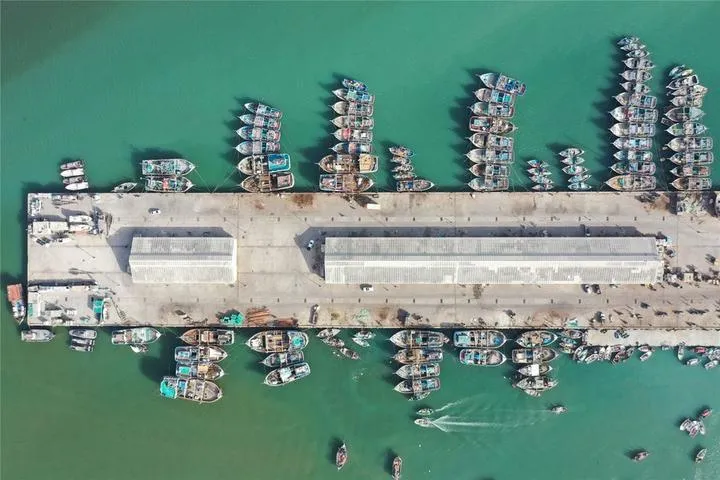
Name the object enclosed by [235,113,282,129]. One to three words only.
boat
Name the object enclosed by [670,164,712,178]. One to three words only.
boat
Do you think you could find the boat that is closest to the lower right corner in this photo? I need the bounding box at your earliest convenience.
[695,448,707,462]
